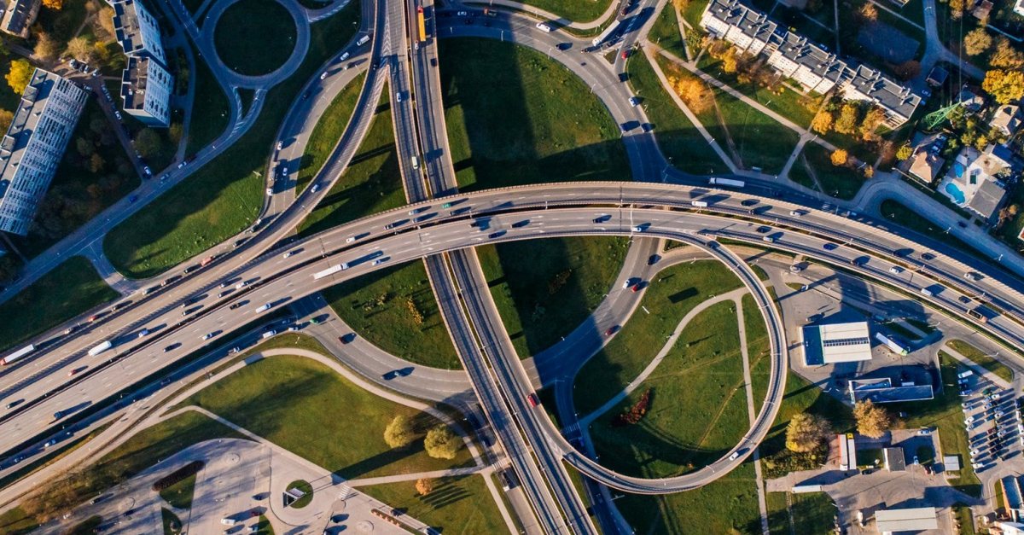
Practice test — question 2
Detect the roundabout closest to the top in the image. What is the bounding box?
[200,0,311,88]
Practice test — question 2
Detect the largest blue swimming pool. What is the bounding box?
[946,182,966,204]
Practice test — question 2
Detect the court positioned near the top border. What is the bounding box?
[858,20,919,61]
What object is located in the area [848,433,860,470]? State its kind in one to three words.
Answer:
vehicle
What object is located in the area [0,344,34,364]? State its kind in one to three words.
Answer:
vehicle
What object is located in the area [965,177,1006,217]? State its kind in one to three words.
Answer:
house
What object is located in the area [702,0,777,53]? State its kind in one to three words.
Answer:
building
